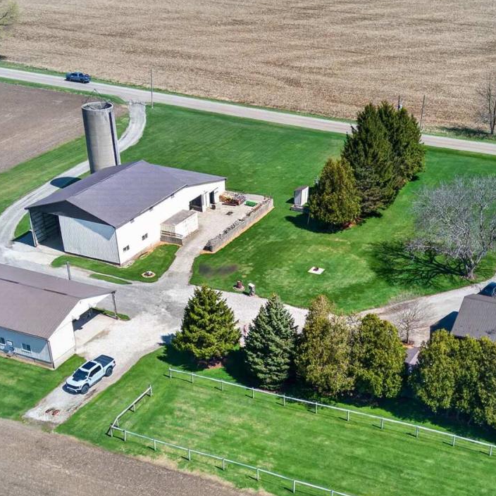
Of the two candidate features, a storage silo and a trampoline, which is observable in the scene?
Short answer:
storage silo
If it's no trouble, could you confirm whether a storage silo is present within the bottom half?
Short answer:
No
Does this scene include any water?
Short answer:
No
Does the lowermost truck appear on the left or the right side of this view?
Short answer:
left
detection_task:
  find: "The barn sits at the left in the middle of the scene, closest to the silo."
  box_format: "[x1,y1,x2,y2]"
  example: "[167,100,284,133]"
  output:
[25,159,228,265]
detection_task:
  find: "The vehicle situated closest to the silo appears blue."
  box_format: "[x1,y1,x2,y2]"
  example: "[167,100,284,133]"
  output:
[63,69,90,81]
